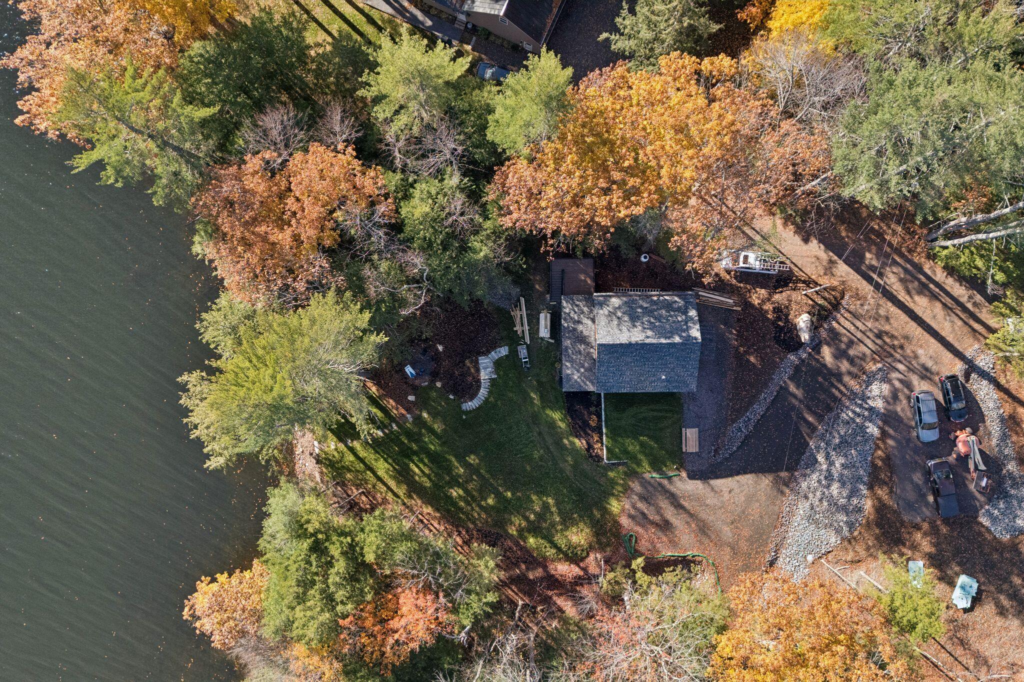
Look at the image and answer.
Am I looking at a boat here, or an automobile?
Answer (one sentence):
I can see an automobile in this picture.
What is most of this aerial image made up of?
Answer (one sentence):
The largest share of the image is taken up by trees.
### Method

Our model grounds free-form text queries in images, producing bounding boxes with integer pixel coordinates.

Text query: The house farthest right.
[561,288,704,394]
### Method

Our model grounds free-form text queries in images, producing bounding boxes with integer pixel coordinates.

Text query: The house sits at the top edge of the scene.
[434,0,568,60]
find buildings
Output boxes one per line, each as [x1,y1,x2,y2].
[434,0,568,60]
[561,288,704,394]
